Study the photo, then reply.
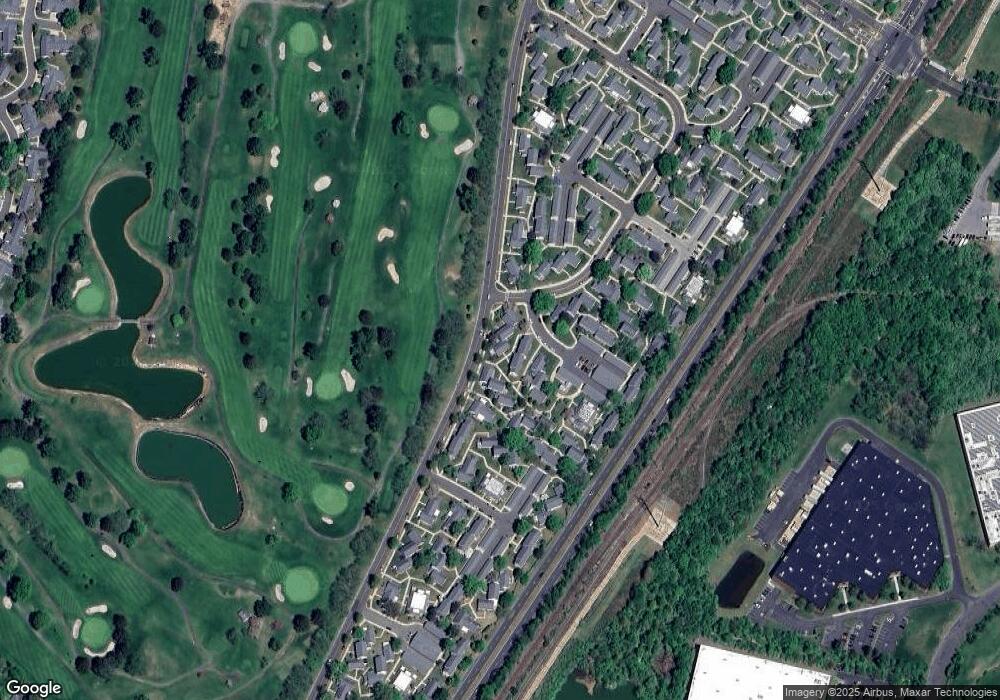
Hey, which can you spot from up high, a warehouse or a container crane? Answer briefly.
warehouse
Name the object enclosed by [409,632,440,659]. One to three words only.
building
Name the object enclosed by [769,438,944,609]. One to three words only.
warehouse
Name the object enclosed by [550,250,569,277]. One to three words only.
house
